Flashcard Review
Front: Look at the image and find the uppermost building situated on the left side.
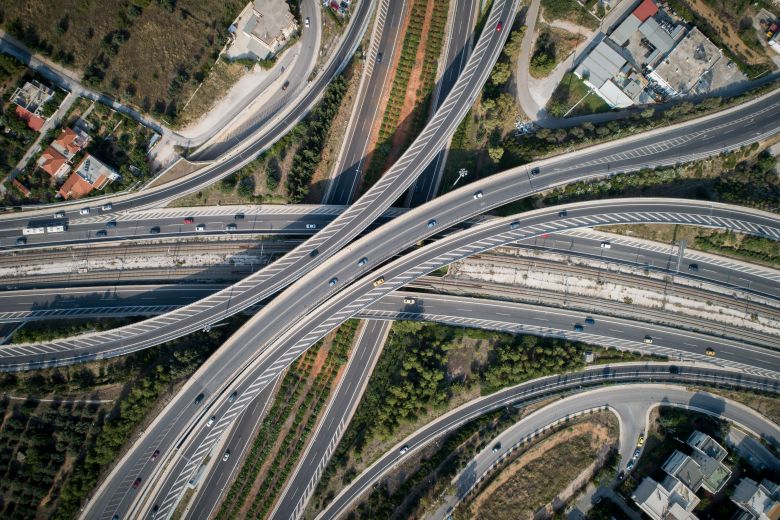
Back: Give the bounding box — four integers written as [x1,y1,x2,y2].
[242,0,302,65]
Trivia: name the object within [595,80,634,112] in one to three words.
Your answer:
building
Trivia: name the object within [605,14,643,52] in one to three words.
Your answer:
building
